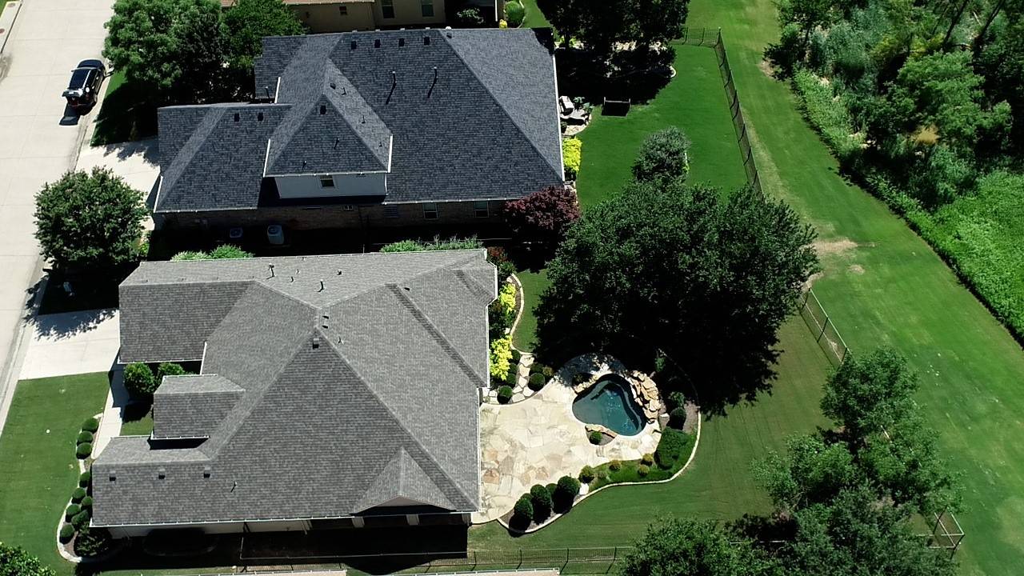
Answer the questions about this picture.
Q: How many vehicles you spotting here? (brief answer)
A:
1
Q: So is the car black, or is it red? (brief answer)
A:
black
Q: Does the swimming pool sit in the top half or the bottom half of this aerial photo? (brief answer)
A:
bottom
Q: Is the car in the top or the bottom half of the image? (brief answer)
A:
top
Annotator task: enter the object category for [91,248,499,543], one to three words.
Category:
house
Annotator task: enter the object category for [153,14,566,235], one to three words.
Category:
house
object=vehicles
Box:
[58,62,107,112]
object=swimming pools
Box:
[568,369,651,441]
